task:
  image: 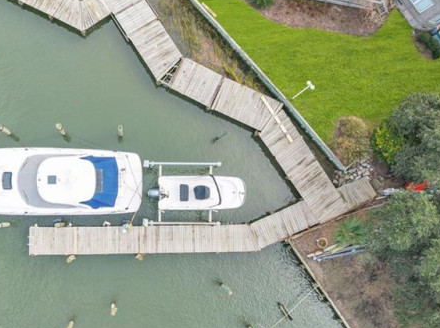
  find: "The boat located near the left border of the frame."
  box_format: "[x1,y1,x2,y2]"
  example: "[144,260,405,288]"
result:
[0,146,143,216]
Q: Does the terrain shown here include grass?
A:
Yes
